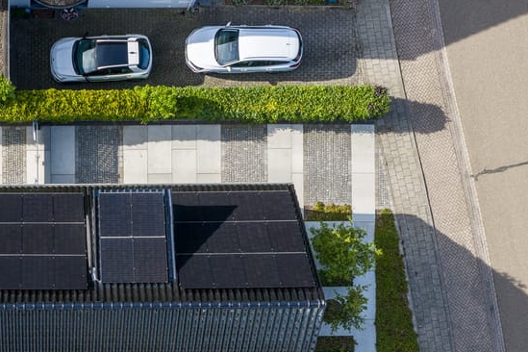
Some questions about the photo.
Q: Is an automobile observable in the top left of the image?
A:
Yes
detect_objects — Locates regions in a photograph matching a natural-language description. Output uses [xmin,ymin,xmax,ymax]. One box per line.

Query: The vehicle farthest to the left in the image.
[50,28,151,85]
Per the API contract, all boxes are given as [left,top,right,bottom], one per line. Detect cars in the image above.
[185,18,302,76]
[50,28,151,85]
